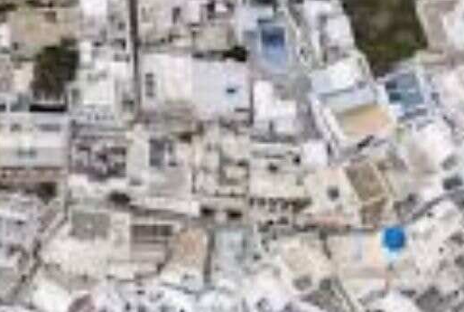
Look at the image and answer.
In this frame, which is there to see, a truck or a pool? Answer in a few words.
pool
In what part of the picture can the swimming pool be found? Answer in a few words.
top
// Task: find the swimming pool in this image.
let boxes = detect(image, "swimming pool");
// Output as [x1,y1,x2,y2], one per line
[259,23,287,73]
